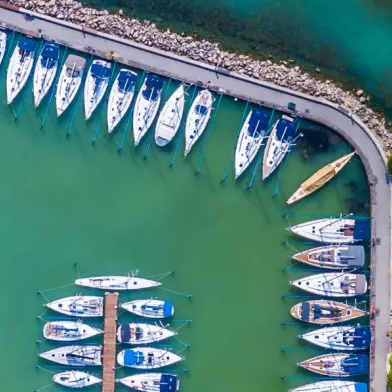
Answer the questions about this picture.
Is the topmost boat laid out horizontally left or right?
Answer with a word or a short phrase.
right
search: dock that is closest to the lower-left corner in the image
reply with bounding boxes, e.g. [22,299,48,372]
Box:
[102,292,118,392]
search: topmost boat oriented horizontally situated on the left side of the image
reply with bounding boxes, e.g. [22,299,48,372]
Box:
[42,268,190,296]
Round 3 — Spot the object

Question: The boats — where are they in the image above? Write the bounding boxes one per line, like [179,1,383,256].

[37,367,103,391]
[287,378,373,392]
[55,50,87,117]
[39,318,105,342]
[283,241,371,271]
[116,322,189,346]
[32,38,61,108]
[223,105,271,181]
[183,86,215,157]
[36,342,103,368]
[115,370,187,392]
[283,298,372,325]
[114,346,187,370]
[133,69,167,146]
[282,351,373,379]
[39,292,103,319]
[6,32,37,117]
[282,324,375,352]
[42,268,190,296]
[289,270,371,299]
[117,296,189,321]
[107,63,140,133]
[82,55,113,121]
[285,214,376,245]
[154,80,191,150]
[262,113,299,195]
[274,151,357,204]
